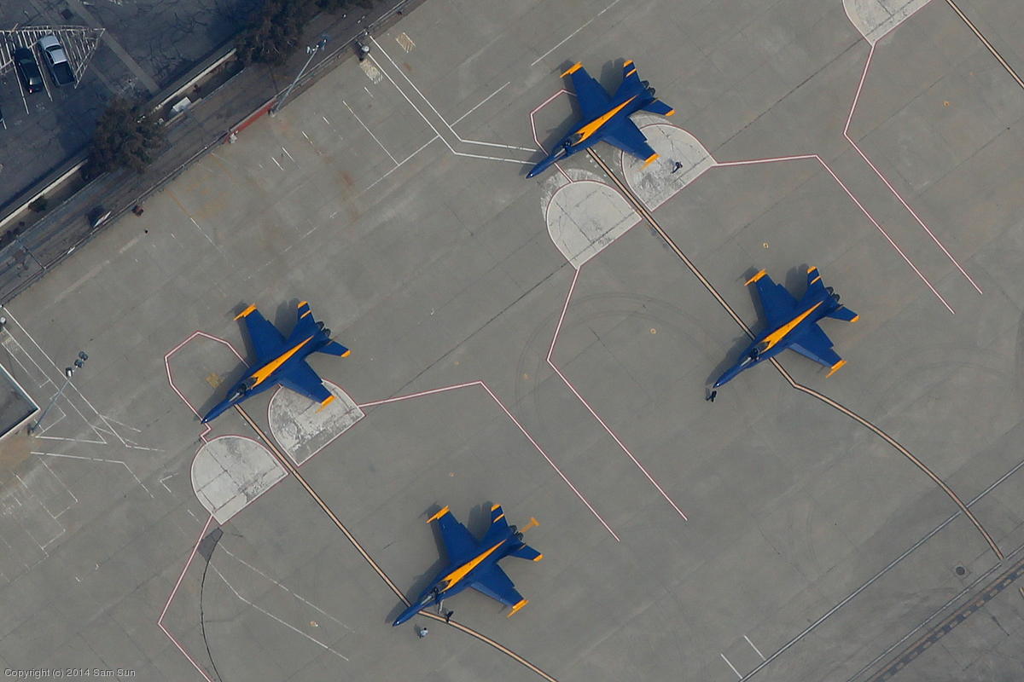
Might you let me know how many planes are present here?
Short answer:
4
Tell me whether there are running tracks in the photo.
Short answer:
No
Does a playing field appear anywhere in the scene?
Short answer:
No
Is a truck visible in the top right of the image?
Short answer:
No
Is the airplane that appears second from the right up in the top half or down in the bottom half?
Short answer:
top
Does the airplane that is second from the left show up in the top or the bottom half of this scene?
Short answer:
bottom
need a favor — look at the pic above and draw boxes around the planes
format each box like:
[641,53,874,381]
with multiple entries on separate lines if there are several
[202,301,351,423]
[714,266,860,387]
[393,504,543,626]
[527,59,675,177]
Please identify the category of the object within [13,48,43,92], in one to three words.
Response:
car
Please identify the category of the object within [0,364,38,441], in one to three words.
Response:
shed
